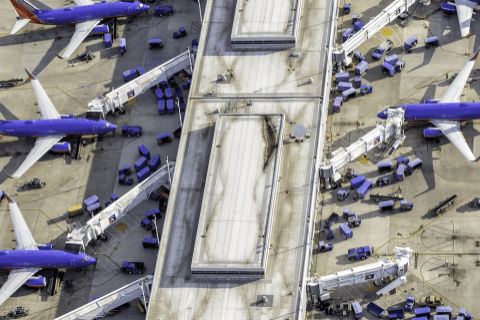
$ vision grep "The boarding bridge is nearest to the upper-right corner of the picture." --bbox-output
[330,0,427,72]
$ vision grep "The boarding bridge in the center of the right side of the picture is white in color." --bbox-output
[318,113,407,196]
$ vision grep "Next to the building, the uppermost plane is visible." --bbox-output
[9,0,150,61]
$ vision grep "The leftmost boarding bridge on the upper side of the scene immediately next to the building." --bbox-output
[88,46,203,118]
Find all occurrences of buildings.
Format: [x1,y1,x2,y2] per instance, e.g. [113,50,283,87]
[148,0,339,320]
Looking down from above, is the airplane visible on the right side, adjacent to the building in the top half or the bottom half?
top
